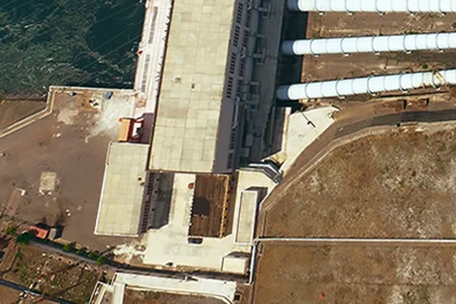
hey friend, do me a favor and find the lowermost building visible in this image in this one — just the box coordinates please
[93,271,240,304]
